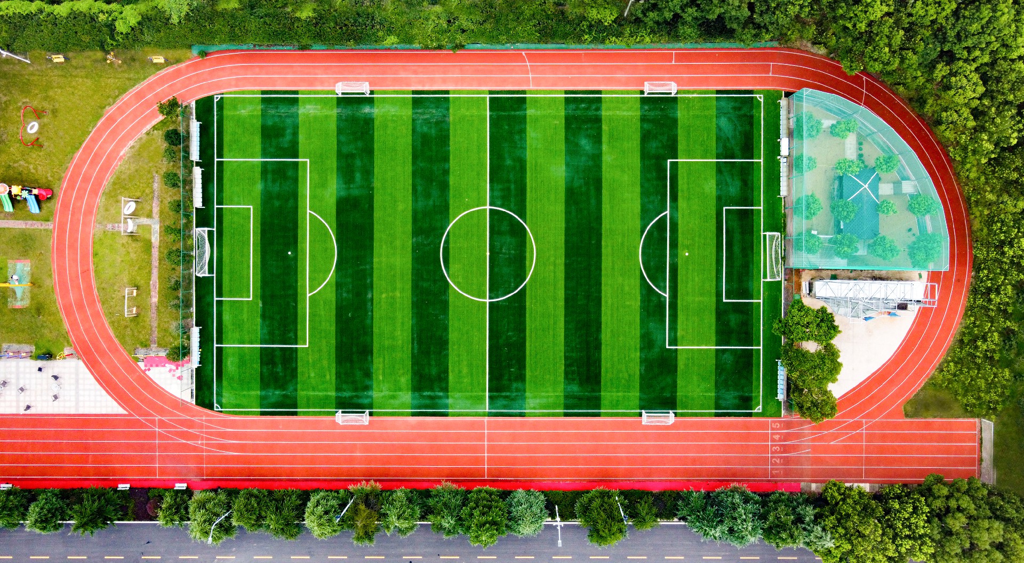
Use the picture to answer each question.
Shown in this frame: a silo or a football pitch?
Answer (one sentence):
There is a football pitch in the scene.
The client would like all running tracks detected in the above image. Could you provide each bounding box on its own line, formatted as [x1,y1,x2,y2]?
[0,48,980,484]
